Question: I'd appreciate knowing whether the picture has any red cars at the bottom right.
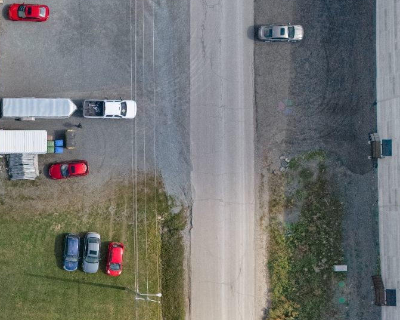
No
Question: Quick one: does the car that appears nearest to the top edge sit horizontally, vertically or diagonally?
horizontally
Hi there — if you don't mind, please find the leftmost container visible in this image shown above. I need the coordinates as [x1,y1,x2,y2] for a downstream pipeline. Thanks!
[0,130,48,156]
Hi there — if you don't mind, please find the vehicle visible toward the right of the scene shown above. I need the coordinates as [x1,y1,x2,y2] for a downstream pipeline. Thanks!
[256,22,302,44]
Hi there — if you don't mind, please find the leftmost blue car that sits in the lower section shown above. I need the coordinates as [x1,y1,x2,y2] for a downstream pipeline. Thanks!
[61,232,82,272]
